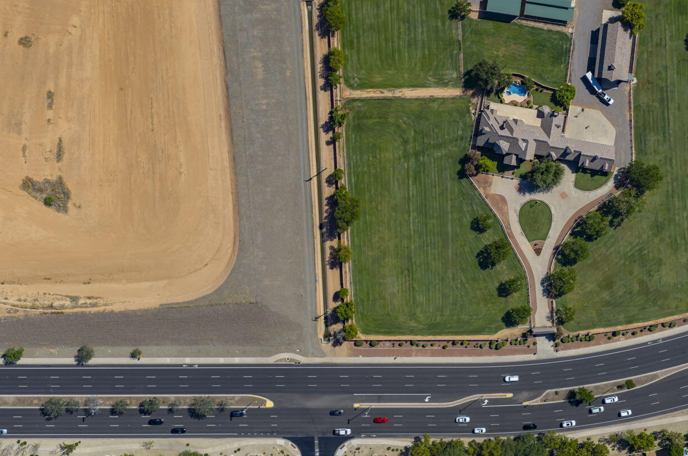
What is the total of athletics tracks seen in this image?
0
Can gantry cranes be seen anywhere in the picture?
No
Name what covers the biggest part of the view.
paved ground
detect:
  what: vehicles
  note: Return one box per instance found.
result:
[590,405,603,413]
[603,396,617,403]
[172,427,186,433]
[0,429,7,435]
[618,410,631,418]
[505,375,518,381]
[473,428,485,433]
[335,429,350,435]
[562,420,576,427]
[597,91,612,104]
[456,416,468,422]
[149,418,163,424]
[524,423,538,429]
[375,416,387,422]
[231,411,246,416]
[330,410,344,415]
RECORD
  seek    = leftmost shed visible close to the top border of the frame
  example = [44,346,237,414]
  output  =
[487,0,522,16]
